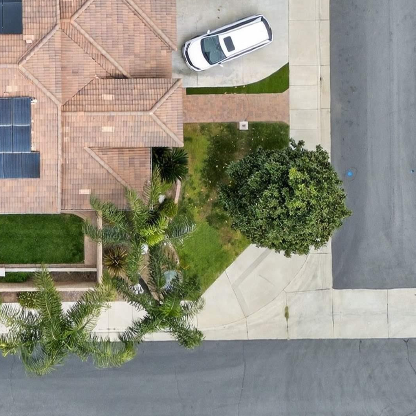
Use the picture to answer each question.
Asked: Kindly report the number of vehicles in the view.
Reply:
one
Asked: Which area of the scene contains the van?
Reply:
top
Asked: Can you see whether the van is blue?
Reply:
No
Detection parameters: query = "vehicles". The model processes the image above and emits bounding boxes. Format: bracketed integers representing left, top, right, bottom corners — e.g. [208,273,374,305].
[178,13,272,72]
